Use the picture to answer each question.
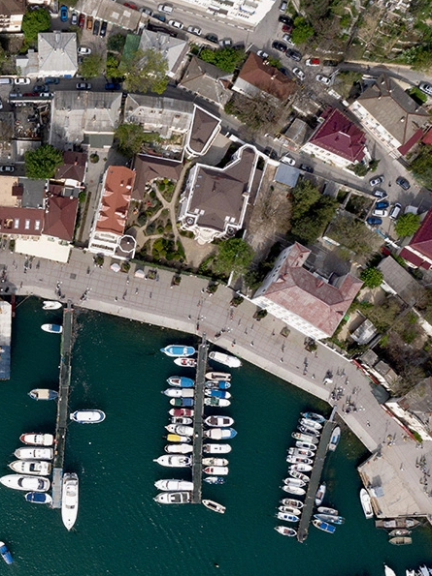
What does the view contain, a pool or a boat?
boat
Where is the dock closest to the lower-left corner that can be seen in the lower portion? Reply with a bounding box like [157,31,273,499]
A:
[51,469,64,509]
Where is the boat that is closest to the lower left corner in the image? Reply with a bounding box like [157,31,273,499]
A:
[0,544,15,567]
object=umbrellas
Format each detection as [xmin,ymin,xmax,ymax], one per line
[112,262,122,272]
[137,268,147,278]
